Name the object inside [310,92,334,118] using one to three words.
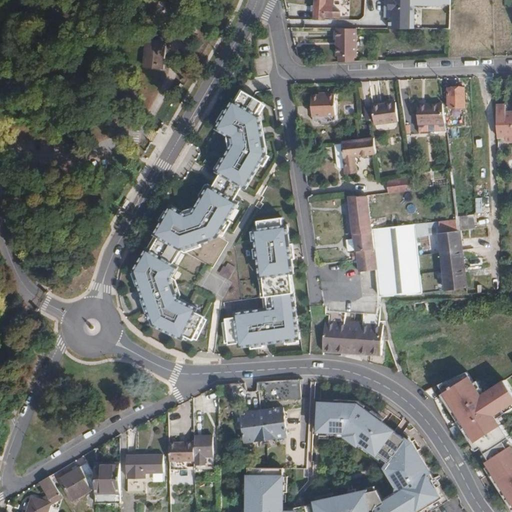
house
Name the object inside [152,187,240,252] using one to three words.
building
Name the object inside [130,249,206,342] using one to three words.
building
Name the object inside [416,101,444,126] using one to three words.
house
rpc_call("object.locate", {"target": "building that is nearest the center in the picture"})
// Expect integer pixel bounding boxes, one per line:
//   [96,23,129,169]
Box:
[252,218,294,298]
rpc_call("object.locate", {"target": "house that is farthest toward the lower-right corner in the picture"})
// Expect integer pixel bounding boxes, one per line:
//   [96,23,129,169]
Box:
[484,444,512,510]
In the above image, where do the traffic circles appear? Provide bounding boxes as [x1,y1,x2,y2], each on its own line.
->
[60,296,124,358]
